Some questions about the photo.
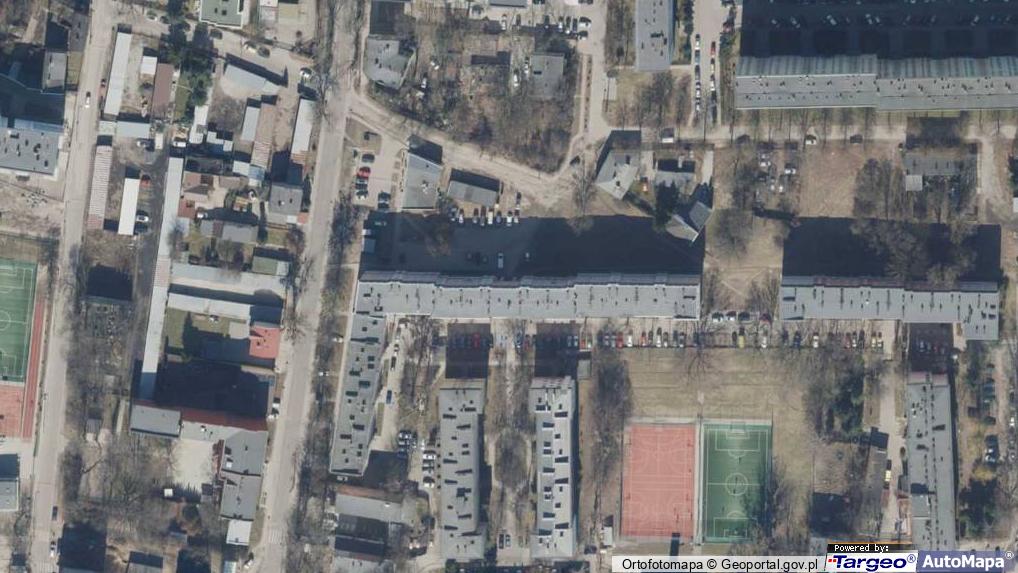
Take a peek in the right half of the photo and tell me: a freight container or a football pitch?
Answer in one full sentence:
The one visible in the right half of the photo is a football pitch.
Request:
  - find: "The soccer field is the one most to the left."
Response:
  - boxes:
[0,262,38,382]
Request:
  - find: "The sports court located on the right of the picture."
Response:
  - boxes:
[621,424,695,537]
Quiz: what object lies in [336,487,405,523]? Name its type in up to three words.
building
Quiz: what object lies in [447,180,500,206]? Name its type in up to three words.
shed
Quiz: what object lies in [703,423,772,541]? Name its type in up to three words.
soccer field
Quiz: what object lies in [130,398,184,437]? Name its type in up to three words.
house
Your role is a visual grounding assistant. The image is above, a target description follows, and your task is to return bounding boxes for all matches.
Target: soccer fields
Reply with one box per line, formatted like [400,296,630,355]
[0,262,38,382]
[703,423,772,541]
